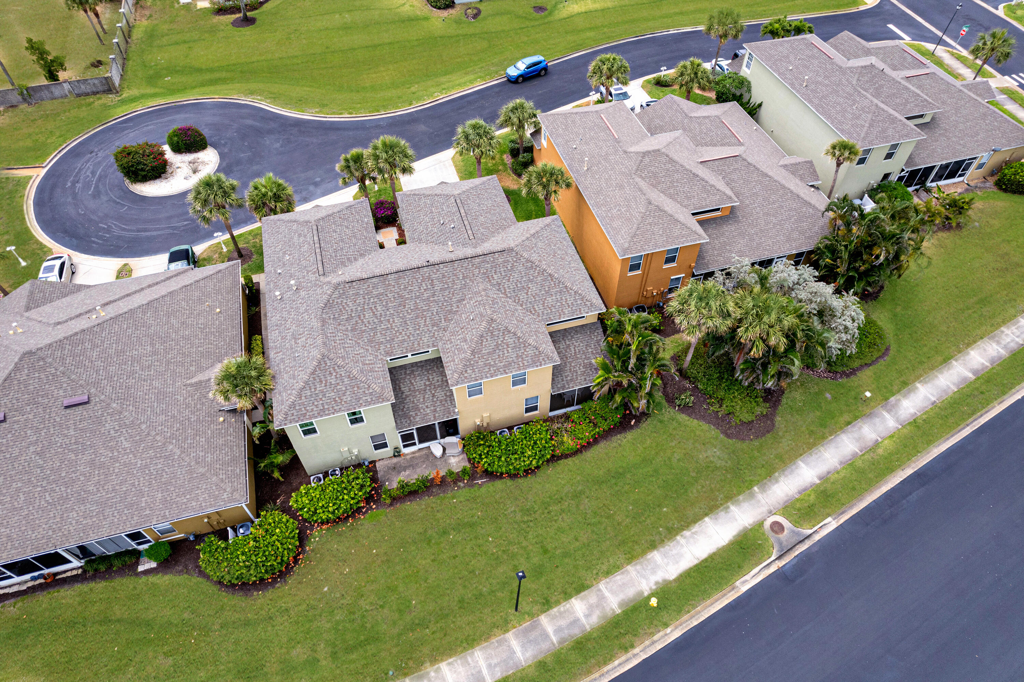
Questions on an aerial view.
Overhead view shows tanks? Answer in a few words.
No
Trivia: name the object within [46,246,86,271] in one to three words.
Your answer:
car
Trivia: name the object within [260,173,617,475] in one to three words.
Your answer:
house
